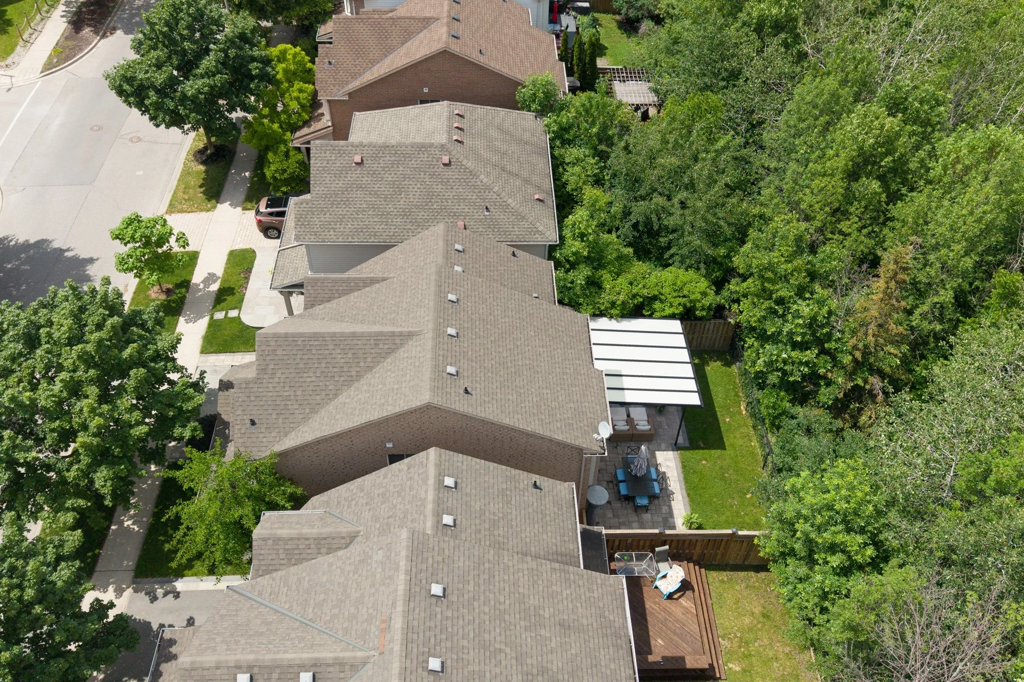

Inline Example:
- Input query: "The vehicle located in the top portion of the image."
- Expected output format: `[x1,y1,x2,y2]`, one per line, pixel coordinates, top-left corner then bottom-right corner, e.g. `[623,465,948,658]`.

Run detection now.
[245,189,293,235]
